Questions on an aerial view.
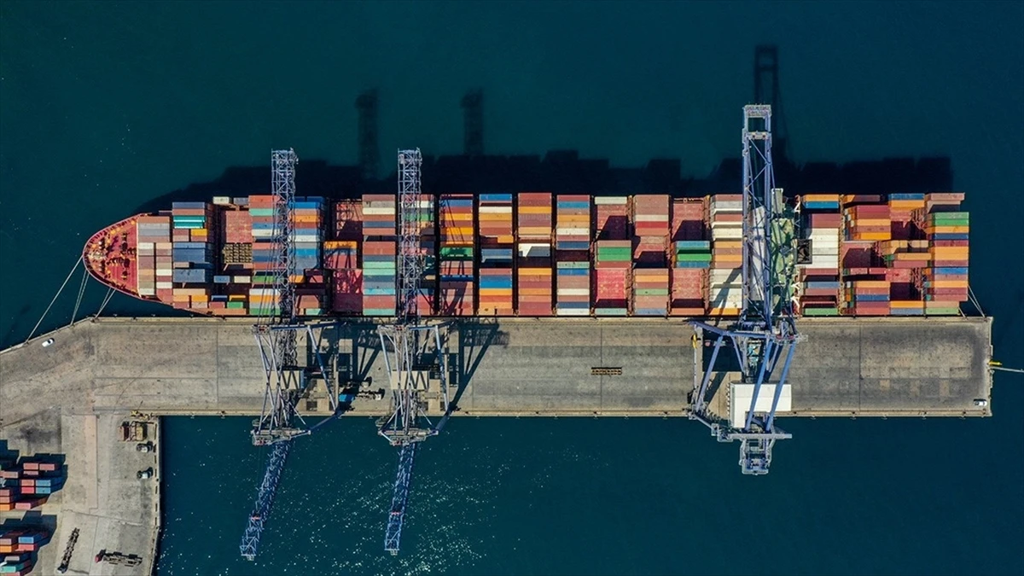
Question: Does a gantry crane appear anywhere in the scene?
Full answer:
Yes, this view includes a gantry crane.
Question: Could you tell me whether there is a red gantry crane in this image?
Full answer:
No, no red gantry crane is visible in the scene.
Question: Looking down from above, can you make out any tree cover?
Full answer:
No, no tree cover is visible.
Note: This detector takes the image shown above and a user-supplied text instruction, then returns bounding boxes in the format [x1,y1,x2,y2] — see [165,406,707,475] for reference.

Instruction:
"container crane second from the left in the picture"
[372,142,458,563]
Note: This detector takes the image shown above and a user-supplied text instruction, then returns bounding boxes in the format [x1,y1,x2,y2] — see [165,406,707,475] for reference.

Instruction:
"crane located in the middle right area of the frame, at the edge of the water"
[685,103,813,474]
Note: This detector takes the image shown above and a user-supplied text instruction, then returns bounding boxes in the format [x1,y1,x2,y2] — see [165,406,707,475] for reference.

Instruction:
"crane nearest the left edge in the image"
[233,142,349,563]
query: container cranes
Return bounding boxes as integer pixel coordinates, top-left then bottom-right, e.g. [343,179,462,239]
[685,103,813,474]
[233,142,349,563]
[372,142,458,563]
